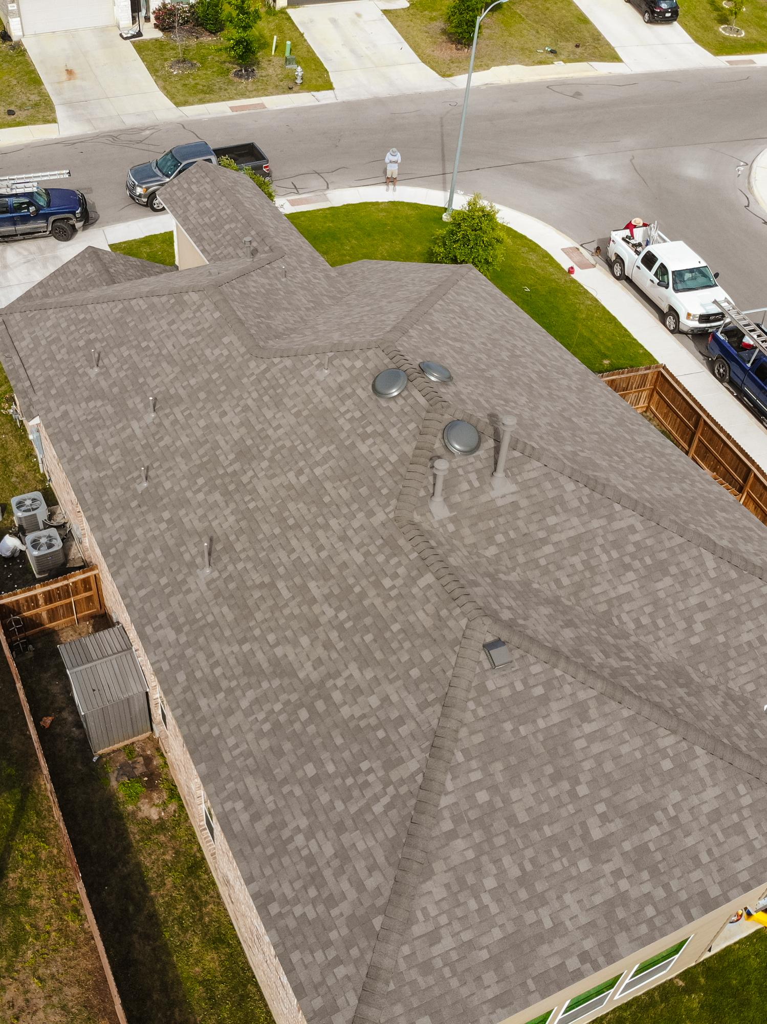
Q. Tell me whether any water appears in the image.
No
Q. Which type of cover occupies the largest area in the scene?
buildings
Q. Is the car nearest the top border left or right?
right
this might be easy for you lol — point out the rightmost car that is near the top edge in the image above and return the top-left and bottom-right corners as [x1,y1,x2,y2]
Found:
[633,0,681,25]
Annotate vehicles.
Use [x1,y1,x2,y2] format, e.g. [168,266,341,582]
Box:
[704,308,767,423]
[606,229,743,339]
[118,136,270,210]
[633,0,681,25]
[0,171,91,246]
